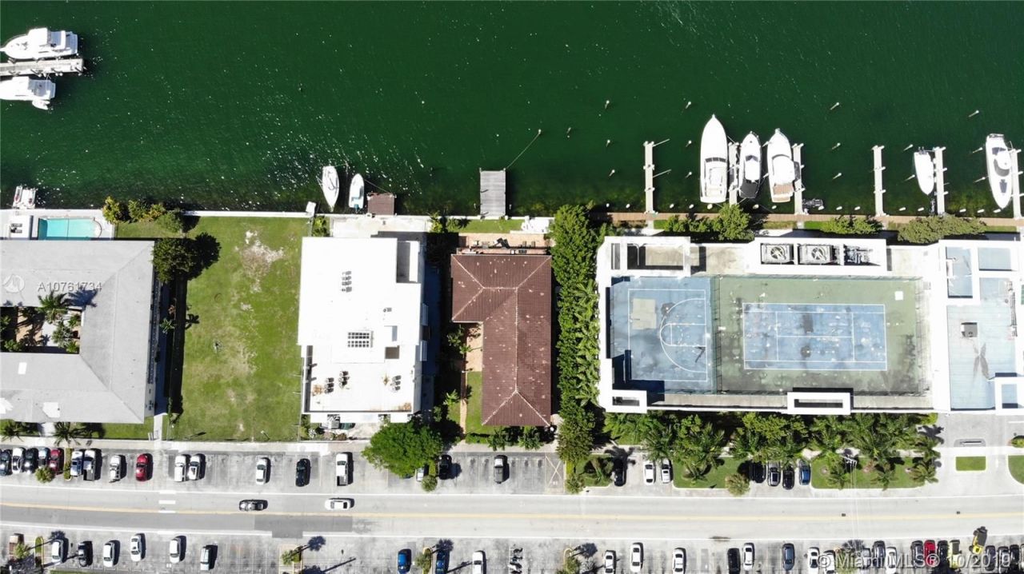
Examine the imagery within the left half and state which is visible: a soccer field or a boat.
boat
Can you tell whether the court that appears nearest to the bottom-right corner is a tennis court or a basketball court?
tennis court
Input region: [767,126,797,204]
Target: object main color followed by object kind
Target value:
white boat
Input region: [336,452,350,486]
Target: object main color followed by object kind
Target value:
white vehicle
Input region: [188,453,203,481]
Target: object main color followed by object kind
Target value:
white car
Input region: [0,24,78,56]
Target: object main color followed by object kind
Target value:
white boat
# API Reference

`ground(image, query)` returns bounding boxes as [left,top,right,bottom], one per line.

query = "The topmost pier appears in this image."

[0,52,85,79]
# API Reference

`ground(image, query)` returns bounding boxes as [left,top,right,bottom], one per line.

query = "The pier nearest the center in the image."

[478,166,509,218]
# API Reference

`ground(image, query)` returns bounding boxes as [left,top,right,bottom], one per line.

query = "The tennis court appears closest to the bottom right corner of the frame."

[718,277,926,393]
